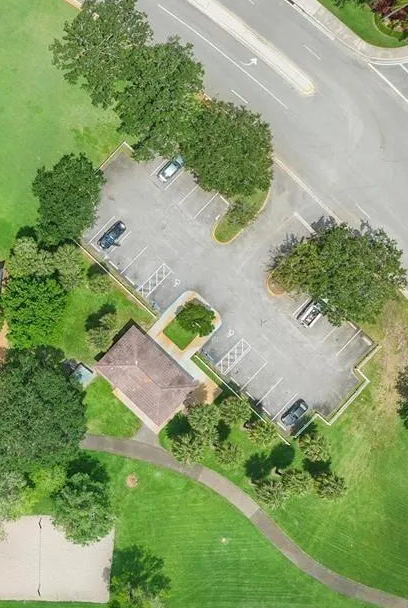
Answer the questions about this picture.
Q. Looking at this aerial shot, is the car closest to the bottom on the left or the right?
right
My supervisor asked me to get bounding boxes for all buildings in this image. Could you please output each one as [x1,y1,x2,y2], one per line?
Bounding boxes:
[69,364,92,384]
[96,325,199,430]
